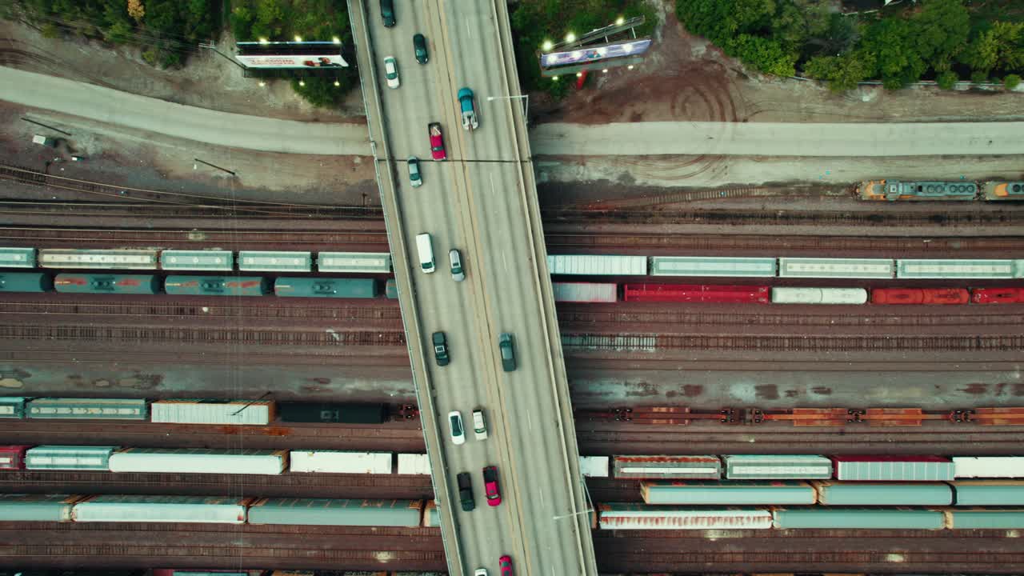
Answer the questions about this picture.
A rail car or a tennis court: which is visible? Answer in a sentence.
Looking from above, you can make out a rail car.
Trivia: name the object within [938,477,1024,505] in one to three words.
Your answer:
rail car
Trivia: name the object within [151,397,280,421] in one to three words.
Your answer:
rail car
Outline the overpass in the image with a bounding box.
[346,0,599,576]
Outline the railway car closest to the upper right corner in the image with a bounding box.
[972,179,1024,199]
